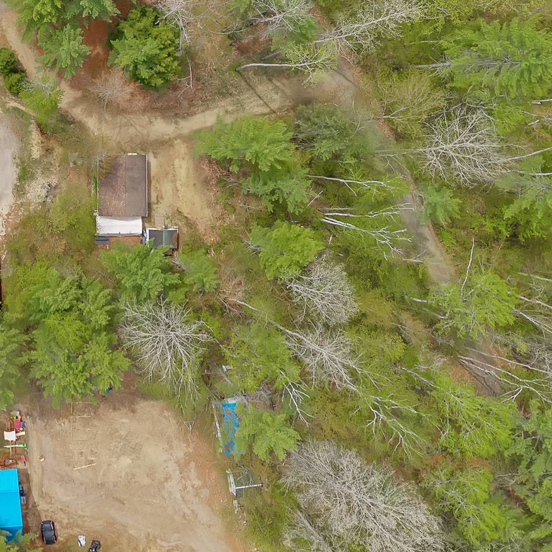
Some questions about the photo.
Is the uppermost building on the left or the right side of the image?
left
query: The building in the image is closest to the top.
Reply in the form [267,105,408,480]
[96,152,148,219]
